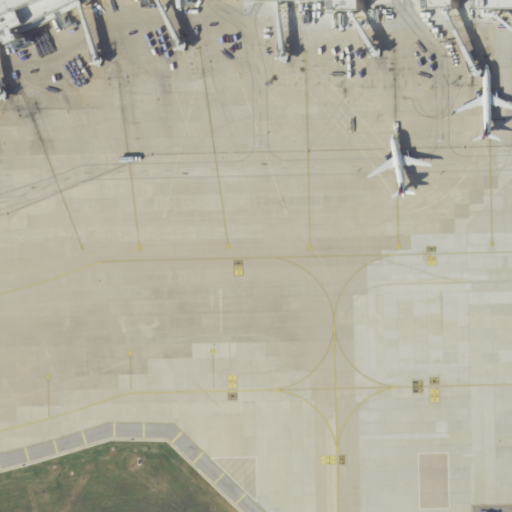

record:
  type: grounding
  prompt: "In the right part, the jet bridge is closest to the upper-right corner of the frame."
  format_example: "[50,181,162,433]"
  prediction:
[480,10,512,33]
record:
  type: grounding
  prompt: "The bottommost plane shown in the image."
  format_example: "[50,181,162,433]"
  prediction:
[368,134,432,198]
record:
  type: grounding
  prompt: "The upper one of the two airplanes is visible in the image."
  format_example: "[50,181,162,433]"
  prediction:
[452,65,512,141]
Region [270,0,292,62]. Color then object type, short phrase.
white jet bridge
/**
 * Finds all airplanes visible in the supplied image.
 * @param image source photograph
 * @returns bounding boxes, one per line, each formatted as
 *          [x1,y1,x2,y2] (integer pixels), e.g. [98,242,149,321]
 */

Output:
[452,65,512,141]
[368,134,432,198]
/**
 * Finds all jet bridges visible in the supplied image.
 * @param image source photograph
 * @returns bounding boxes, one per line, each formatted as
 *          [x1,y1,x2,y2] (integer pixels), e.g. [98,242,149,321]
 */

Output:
[156,0,190,51]
[77,0,106,66]
[441,6,484,76]
[480,10,512,33]
[270,0,292,62]
[347,8,384,56]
